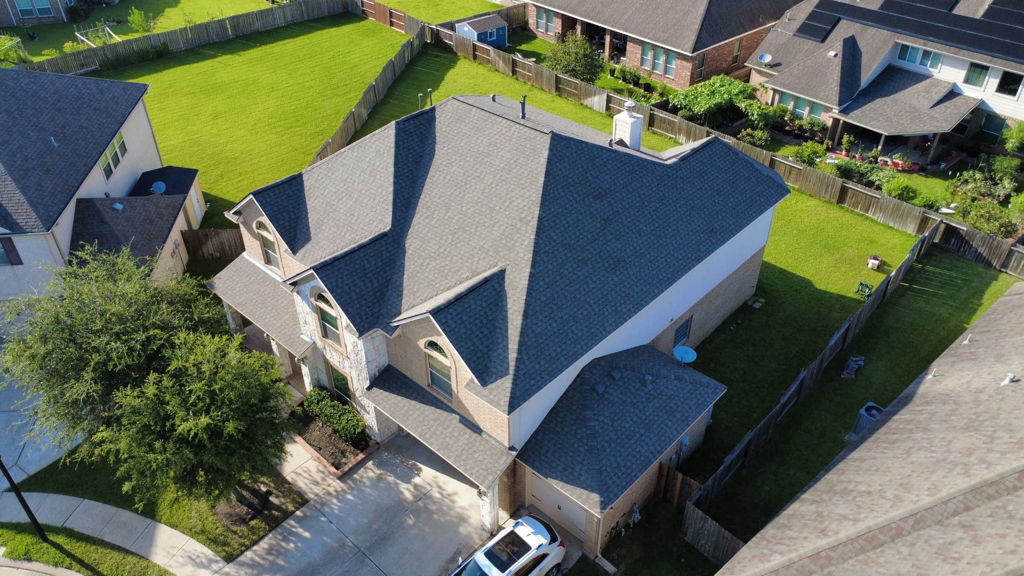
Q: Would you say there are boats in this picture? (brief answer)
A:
No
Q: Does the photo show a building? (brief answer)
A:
Yes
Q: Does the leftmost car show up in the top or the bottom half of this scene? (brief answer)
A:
bottom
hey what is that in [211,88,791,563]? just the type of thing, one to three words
house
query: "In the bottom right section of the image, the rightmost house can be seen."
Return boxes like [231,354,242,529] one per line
[714,278,1024,576]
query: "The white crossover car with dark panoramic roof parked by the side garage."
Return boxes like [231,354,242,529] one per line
[462,513,565,576]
